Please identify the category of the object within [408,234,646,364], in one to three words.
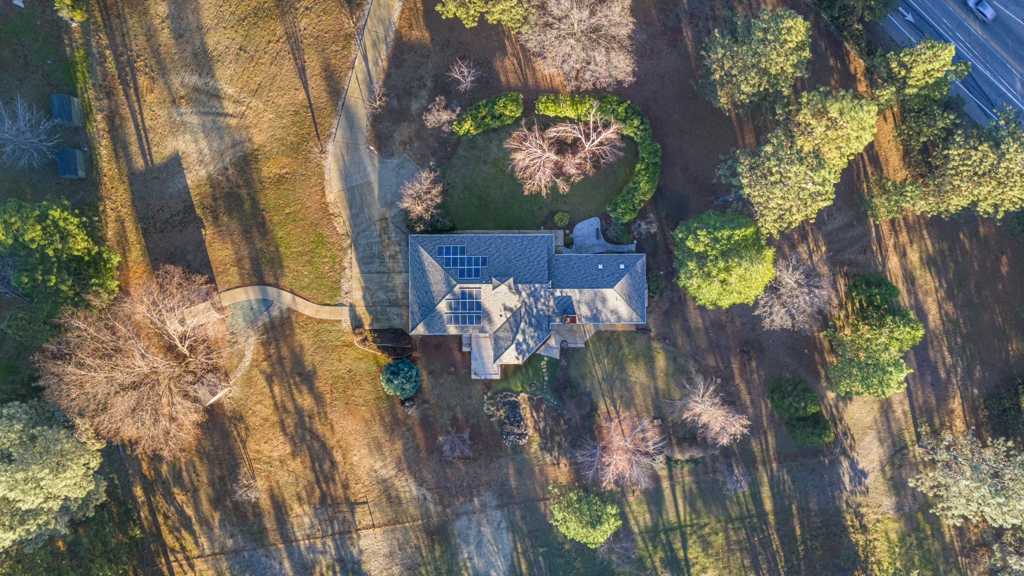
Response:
house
